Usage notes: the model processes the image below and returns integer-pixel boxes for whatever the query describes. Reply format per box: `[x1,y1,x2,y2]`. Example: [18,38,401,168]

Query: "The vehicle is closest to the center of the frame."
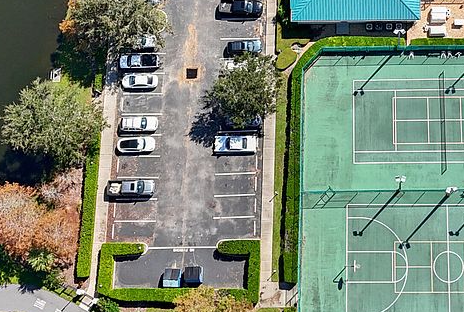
[214,134,260,153]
